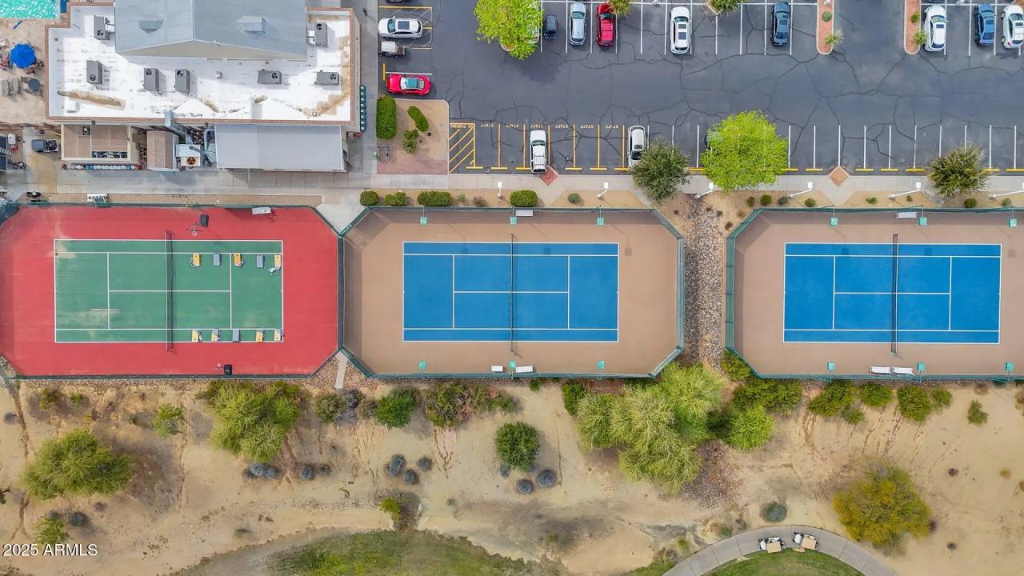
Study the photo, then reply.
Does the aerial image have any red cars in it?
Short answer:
Yes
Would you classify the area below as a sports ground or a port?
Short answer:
sports ground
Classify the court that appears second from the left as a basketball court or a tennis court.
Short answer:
tennis court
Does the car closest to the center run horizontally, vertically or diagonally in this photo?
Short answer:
vertically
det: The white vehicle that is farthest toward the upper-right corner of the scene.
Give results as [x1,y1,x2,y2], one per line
[1000,6,1024,50]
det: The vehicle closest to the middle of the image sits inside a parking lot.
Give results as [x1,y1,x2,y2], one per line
[529,131,549,174]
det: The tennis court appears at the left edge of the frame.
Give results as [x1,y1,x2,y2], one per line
[0,206,340,376]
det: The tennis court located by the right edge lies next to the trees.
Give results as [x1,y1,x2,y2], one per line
[726,211,1024,376]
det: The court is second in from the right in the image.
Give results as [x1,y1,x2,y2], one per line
[344,210,678,374]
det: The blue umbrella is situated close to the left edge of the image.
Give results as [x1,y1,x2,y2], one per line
[11,45,37,70]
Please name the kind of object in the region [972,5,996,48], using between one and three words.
car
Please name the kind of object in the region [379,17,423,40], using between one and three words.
car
